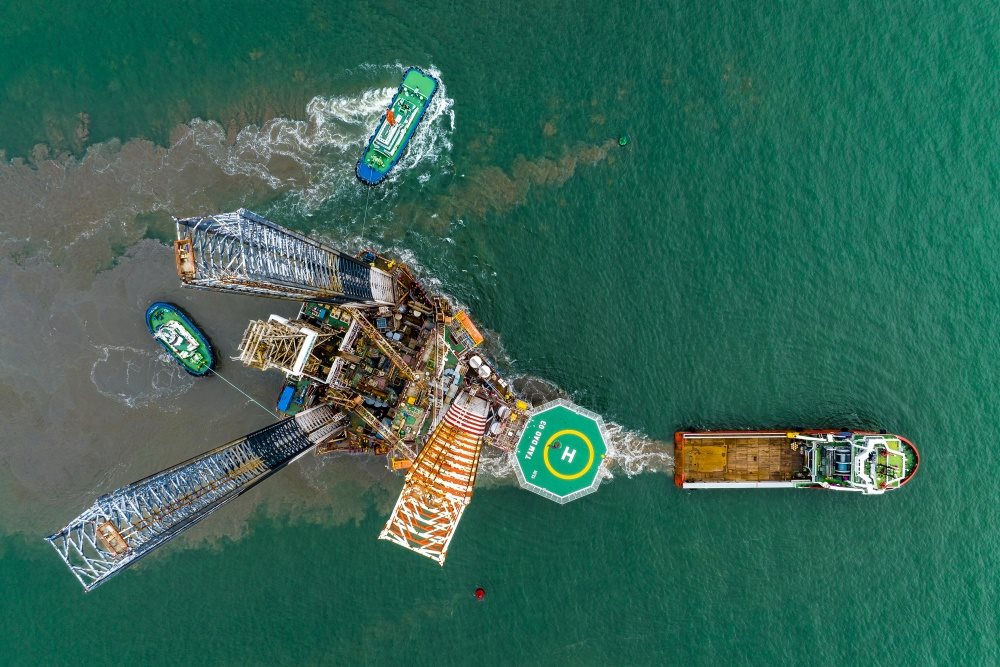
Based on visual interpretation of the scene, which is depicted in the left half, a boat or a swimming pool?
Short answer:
boat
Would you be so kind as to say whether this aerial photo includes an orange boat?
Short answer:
Yes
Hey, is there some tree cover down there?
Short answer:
No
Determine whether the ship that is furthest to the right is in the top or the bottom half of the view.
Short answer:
bottom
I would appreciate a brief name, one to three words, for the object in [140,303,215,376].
boat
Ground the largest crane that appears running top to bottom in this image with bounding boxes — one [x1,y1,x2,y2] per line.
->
[431,301,447,427]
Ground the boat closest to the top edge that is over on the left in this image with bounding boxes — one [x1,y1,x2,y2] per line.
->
[356,60,441,186]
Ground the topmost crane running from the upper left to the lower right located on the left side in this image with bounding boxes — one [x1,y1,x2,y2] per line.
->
[345,307,431,389]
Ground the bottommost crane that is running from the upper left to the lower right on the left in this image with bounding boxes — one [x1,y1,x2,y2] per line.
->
[346,387,422,456]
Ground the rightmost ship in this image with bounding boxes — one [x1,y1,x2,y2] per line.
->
[677,430,920,494]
